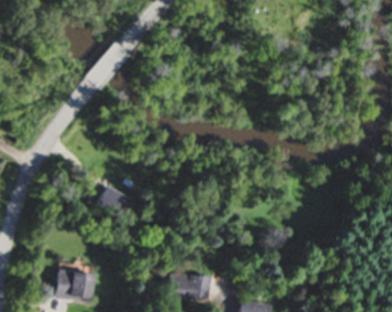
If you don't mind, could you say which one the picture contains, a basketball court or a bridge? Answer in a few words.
bridge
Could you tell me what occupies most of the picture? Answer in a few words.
trees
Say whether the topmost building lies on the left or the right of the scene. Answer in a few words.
left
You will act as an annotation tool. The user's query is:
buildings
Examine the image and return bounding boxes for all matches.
[240,302,272,312]
[58,270,96,301]
[98,185,126,211]
[170,274,213,301]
